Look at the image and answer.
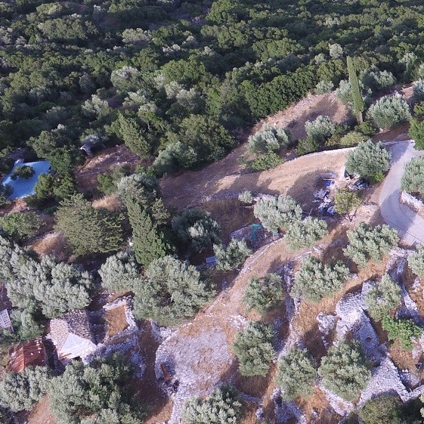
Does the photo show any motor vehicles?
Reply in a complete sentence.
No, there's no motor vehicle here.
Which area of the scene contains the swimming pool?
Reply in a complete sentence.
The swimming pool appears toward the left of the photo.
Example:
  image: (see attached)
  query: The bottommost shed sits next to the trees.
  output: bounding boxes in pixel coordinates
[7,340,52,379]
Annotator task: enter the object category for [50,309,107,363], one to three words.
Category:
shed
